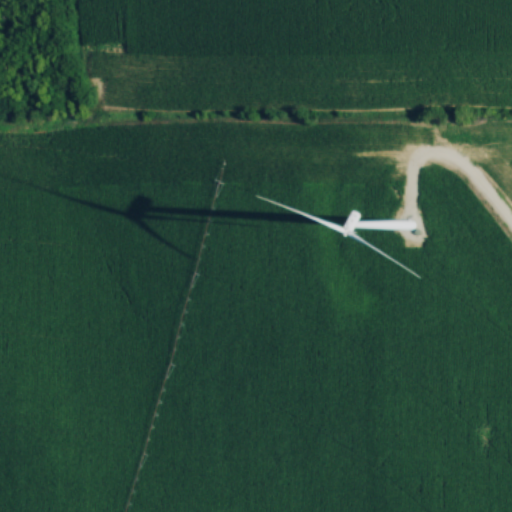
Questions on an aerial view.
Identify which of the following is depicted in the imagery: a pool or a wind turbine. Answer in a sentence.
Of the two, only a wind turbine appears.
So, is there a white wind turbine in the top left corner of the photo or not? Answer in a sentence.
No, in the top left corner of the photo there is no white wind turbine.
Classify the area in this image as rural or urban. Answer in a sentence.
The land in this view is best described as rural.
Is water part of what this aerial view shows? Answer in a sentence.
No, there is no water in the image.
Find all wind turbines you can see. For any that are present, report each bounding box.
[262,195,424,279]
